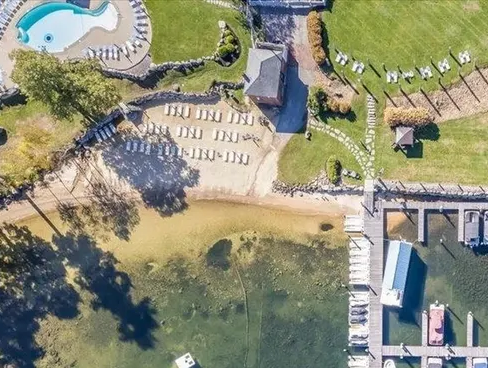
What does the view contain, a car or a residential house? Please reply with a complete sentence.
This aerial view contains a residential house.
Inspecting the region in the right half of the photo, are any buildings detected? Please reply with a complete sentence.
Yes, a building is visible in the right half of the photo.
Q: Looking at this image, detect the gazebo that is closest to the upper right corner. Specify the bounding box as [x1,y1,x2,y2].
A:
[395,127,414,148]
